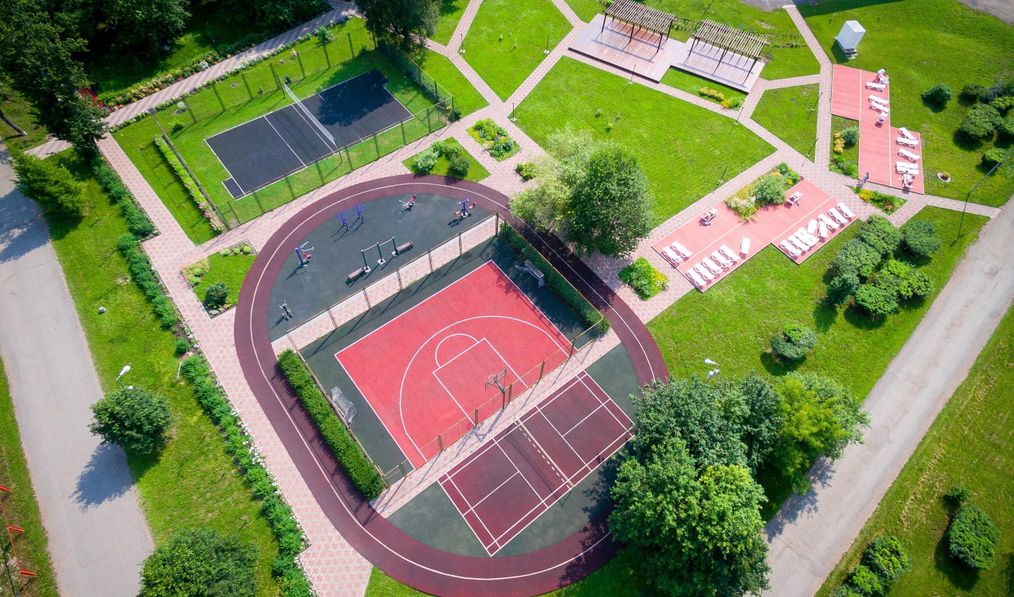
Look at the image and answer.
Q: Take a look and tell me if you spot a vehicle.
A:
No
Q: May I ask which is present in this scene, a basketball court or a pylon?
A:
basketball court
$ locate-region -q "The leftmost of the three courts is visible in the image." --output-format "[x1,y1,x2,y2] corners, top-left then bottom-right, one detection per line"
[206,69,409,203]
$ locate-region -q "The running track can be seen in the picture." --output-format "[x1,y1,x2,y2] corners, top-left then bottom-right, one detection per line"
[236,174,674,597]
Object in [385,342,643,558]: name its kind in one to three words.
sports court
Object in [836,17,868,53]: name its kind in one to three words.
building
